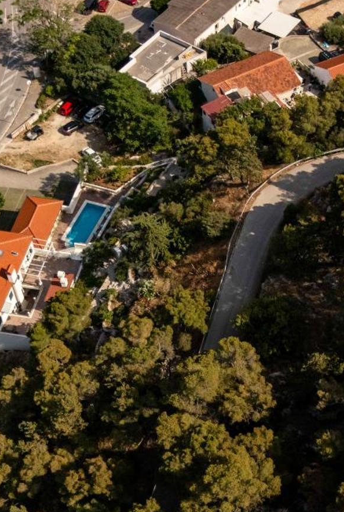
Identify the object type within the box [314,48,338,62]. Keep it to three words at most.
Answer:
vehicle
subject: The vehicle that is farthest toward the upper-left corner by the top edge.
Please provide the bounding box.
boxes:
[82,0,97,13]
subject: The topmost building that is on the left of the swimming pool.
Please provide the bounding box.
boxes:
[10,197,63,263]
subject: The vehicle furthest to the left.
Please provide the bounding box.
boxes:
[23,125,47,143]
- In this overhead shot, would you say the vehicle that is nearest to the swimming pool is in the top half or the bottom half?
top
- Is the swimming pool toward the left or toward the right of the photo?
left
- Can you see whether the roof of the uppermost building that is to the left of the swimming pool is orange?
Yes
